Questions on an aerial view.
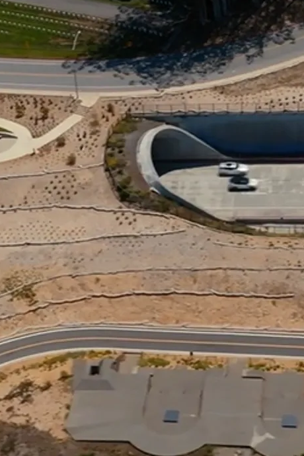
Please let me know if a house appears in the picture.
No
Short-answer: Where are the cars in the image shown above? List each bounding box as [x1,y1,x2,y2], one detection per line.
[230,177,258,191]
[218,164,247,177]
